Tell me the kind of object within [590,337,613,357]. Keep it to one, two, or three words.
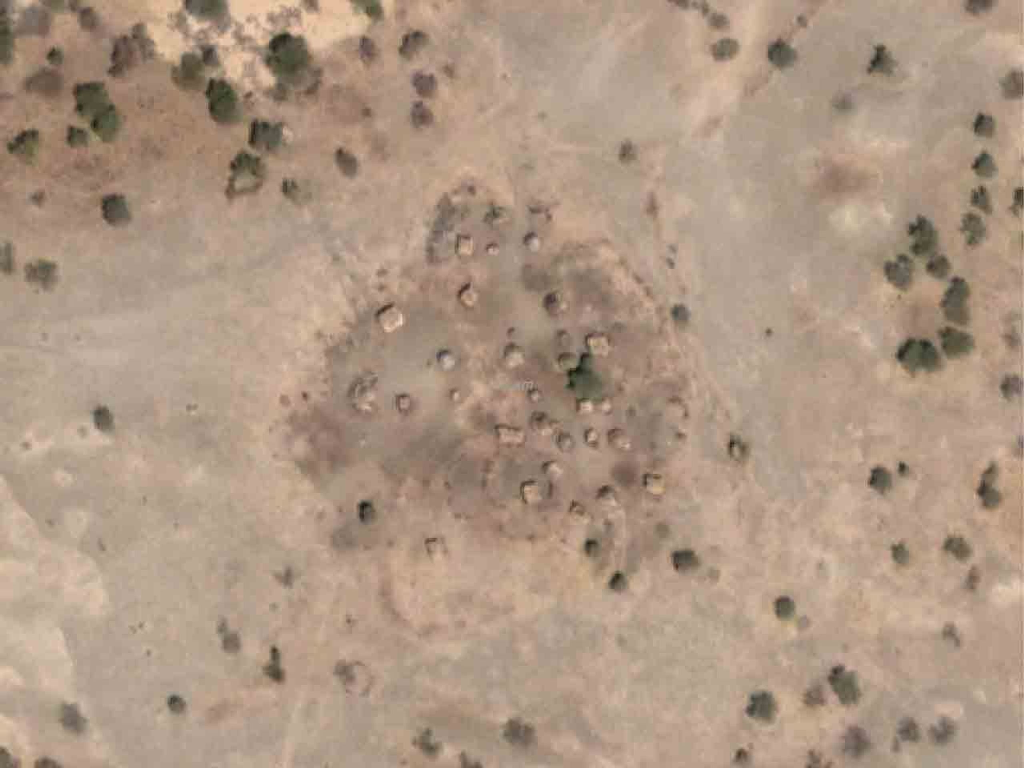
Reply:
house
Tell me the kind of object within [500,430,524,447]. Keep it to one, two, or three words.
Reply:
house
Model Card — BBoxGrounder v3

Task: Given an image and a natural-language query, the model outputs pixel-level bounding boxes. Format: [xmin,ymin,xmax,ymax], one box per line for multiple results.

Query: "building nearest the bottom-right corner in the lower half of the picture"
[647,477,666,496]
